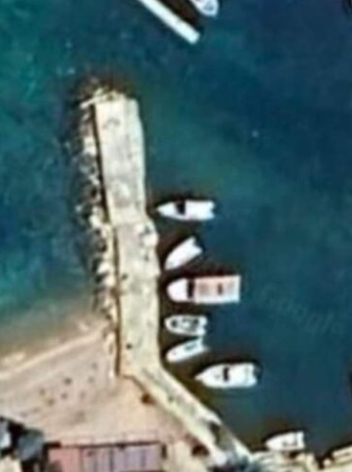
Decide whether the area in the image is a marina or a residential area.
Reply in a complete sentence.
The area seen from above is a marina.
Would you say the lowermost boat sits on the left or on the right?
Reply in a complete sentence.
The lowermost boat appears in the right half of the scene.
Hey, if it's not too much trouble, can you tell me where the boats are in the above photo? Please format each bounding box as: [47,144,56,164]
[158,314,208,335]
[157,234,204,274]
[249,432,309,458]
[148,199,219,219]
[185,363,263,388]
[158,274,241,303]
[159,334,213,360]
[192,0,216,18]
